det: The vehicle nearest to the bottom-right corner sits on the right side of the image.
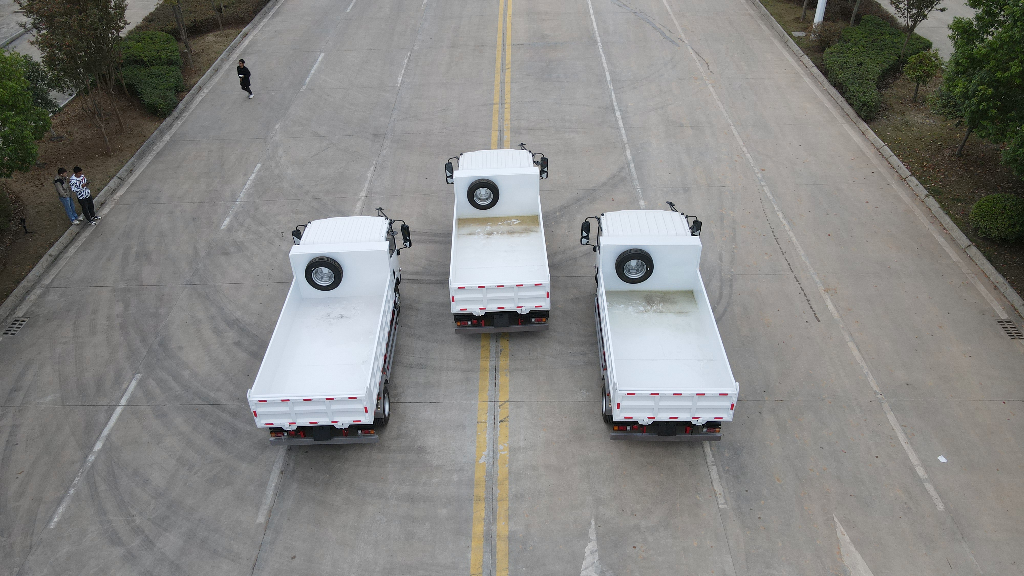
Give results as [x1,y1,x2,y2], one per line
[582,199,739,440]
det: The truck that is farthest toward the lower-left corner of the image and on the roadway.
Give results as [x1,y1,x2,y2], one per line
[248,202,411,447]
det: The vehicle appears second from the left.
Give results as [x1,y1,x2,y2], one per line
[444,139,552,333]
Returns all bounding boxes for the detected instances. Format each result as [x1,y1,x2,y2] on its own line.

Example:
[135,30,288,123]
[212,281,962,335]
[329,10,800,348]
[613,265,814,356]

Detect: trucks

[582,199,739,440]
[444,139,552,333]
[248,202,411,447]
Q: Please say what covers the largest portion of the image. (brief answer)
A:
paved ground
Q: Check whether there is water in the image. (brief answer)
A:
No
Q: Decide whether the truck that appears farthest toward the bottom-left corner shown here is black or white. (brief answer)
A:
white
